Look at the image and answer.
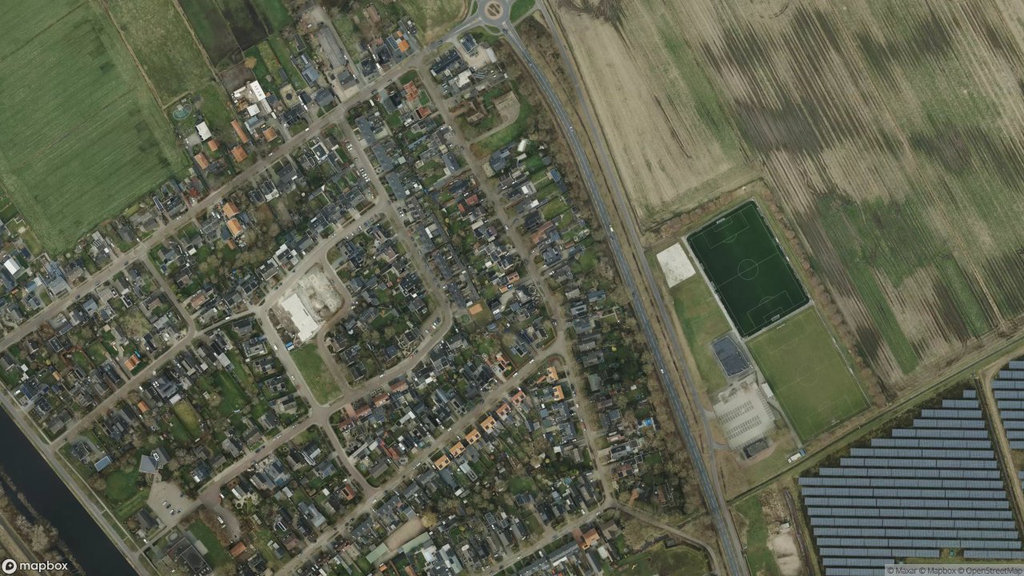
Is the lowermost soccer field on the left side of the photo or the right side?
right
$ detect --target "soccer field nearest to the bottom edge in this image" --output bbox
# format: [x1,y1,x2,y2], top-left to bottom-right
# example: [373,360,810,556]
[749,308,867,440]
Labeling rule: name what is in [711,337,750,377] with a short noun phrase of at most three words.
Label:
sports court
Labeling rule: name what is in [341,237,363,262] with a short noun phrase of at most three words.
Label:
house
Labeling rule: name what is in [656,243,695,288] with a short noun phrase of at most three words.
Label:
sports field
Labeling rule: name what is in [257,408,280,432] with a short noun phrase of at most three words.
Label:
house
